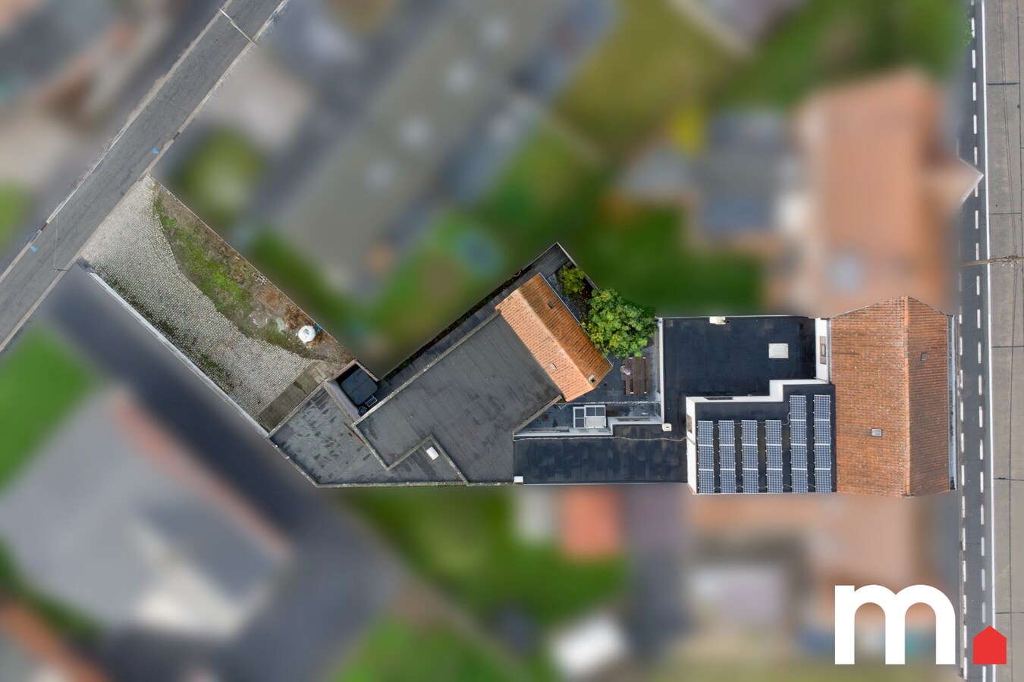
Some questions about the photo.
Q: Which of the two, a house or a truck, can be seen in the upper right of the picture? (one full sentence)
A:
You can see a house in the upper right of the picture.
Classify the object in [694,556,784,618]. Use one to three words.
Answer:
shed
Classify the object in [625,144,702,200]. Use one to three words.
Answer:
shed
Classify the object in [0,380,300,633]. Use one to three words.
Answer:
house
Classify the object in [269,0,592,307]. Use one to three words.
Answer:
building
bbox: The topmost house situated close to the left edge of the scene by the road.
[0,0,195,122]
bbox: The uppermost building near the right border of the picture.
[794,84,984,317]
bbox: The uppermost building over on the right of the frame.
[710,0,794,54]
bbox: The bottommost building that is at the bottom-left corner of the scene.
[0,573,131,682]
